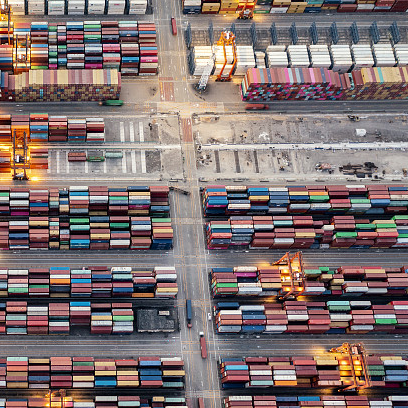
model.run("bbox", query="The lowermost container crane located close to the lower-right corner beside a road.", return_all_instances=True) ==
[331,342,374,395]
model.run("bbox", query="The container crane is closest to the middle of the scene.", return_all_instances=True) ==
[271,252,307,302]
